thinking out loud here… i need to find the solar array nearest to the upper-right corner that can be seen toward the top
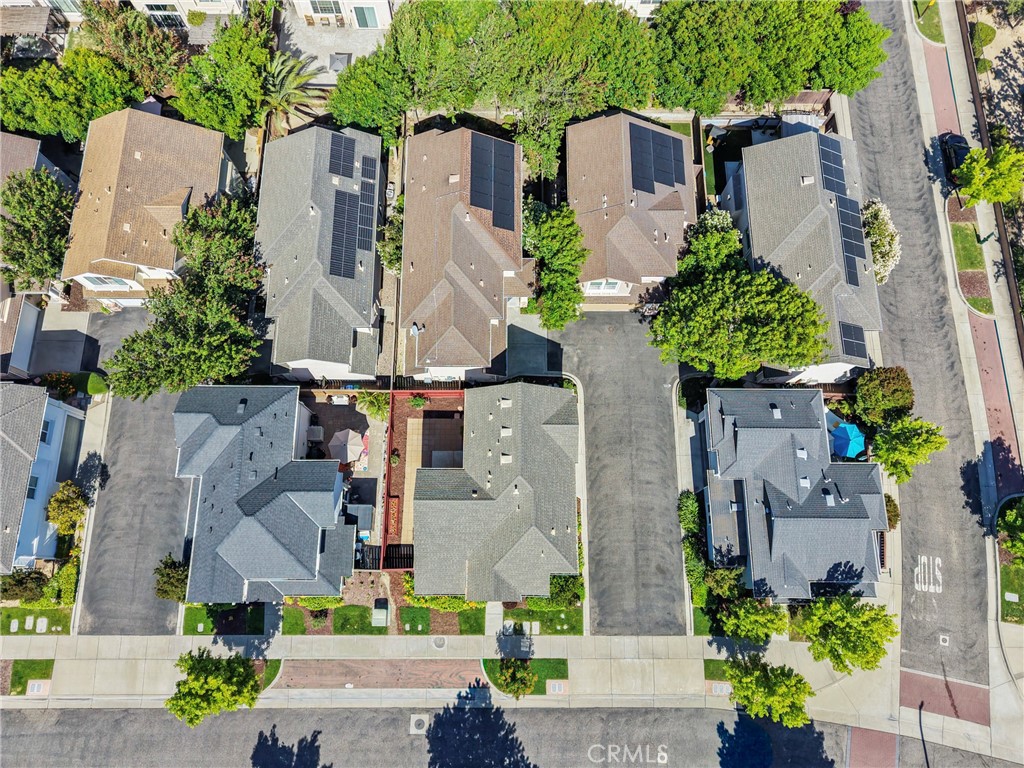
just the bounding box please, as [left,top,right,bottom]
[820,133,867,286]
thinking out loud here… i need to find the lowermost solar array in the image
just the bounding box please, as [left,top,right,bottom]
[841,322,868,358]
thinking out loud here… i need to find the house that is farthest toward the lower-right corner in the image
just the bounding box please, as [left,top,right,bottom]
[697,388,888,605]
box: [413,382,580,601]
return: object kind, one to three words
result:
house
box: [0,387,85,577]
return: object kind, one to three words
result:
house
